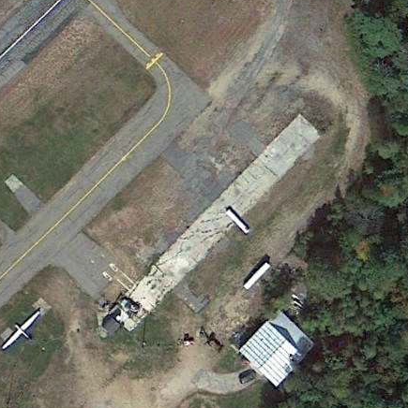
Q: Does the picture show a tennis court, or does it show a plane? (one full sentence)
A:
There is a plane in the scene.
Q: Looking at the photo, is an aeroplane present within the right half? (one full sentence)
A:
No, no aeroplane appears within the right half.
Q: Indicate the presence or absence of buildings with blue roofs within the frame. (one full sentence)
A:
No, there is no building with a blue roof in the image.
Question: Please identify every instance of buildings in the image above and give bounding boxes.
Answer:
[241,313,313,385]
[102,312,124,332]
